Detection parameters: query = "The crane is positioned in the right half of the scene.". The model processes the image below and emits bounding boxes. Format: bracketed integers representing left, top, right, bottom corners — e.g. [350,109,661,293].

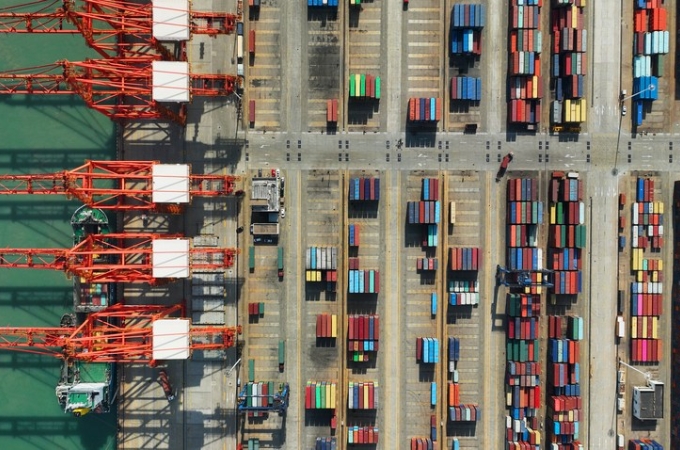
[498,265,554,289]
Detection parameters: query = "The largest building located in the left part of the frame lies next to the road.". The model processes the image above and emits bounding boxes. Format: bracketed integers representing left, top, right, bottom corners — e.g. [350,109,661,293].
[252,177,281,212]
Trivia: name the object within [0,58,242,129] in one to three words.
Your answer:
container crane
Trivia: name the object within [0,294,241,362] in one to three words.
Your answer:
container crane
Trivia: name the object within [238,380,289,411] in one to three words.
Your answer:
crane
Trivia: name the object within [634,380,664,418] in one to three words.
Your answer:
building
